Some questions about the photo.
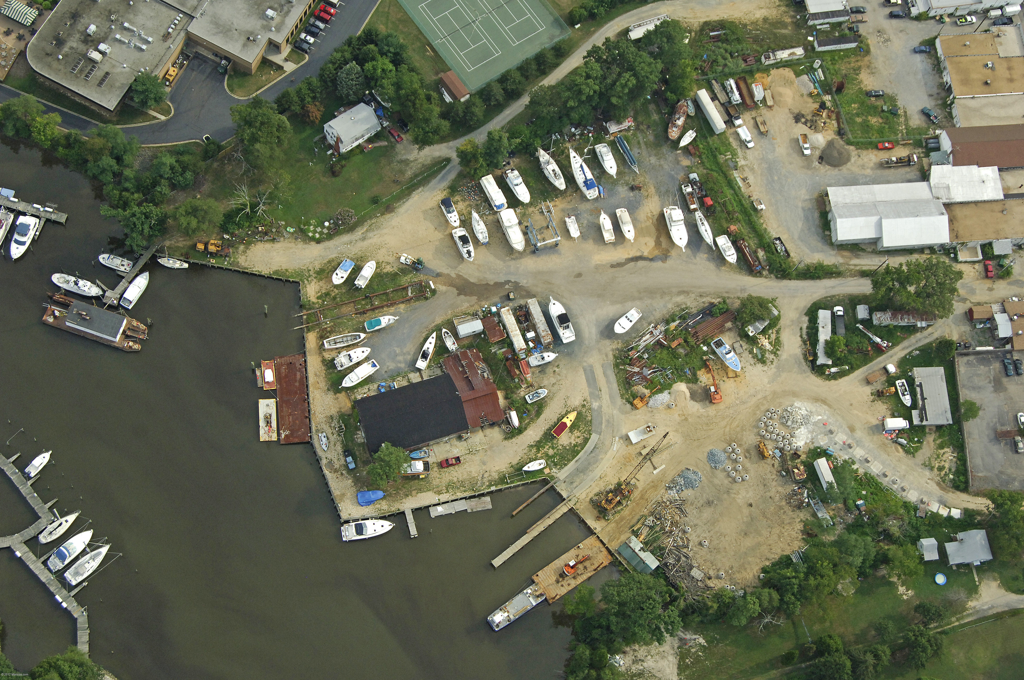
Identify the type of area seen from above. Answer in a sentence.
The area seen from above is a port.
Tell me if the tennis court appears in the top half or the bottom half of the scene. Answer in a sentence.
Seen from above, the tennis court lies in the top half of the view.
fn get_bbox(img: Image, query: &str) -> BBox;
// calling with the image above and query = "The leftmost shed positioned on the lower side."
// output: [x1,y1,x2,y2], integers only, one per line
[354,373,469,456]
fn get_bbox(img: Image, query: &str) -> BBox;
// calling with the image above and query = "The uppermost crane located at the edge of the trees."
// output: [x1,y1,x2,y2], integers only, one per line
[193,230,264,263]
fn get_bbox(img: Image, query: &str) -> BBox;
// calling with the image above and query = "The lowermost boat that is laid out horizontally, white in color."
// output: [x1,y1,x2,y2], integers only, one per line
[338,519,396,542]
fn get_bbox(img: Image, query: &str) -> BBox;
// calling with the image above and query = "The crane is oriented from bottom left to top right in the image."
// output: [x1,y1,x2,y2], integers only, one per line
[596,431,669,515]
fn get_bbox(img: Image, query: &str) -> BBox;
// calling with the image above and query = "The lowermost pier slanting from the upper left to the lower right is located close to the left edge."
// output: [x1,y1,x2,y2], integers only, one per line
[11,537,92,652]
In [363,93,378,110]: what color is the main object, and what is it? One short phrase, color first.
black vehicle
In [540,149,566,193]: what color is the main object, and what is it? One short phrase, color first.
white boat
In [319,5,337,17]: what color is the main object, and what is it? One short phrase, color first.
red vehicle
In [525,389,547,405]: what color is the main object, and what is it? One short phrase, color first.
white boat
